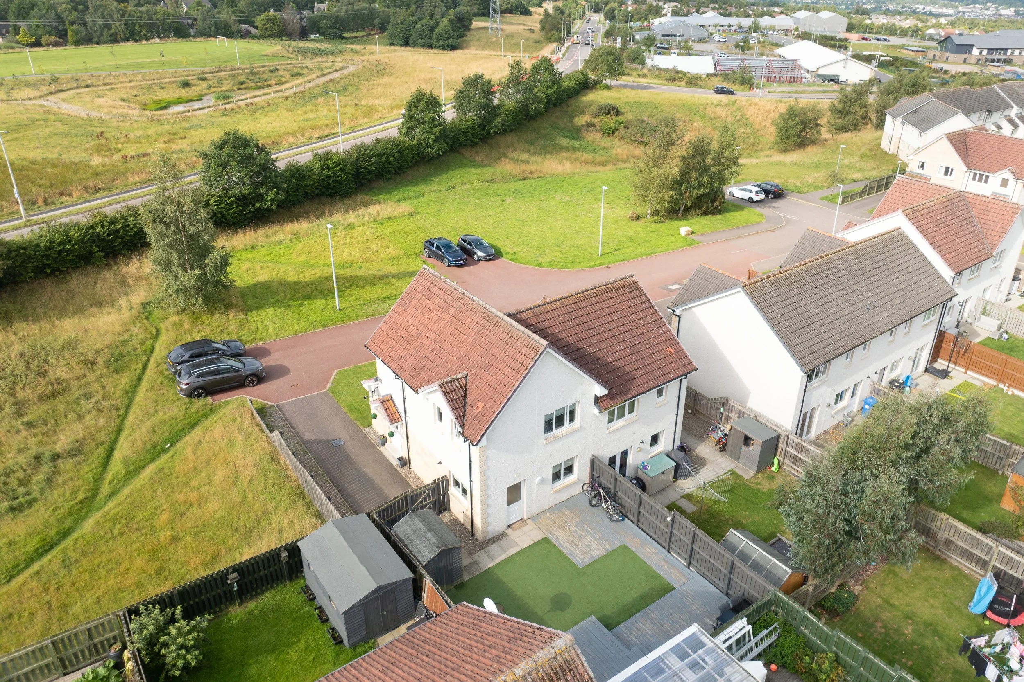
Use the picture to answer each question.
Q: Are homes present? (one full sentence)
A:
Yes, a home can be made out from above.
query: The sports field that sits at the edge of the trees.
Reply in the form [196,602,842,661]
[0,42,297,76]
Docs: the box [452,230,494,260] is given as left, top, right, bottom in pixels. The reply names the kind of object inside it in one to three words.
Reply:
car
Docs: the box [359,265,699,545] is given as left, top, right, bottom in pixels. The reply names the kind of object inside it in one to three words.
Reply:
house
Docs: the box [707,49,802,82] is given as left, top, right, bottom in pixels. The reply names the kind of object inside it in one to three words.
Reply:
building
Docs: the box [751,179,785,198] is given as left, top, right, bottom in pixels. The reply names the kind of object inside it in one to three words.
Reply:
car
